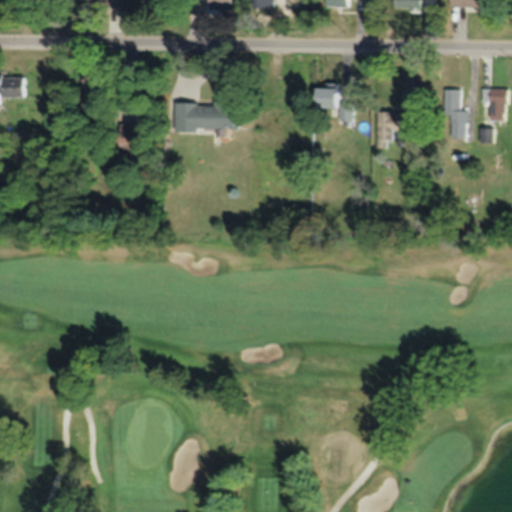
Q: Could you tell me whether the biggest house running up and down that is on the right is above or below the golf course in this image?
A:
above it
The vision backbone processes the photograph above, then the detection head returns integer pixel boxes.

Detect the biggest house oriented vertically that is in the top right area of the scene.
[445,87,470,143]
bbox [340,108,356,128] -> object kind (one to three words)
building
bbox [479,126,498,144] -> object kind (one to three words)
shed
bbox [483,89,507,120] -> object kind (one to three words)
house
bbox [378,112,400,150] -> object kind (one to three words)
house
